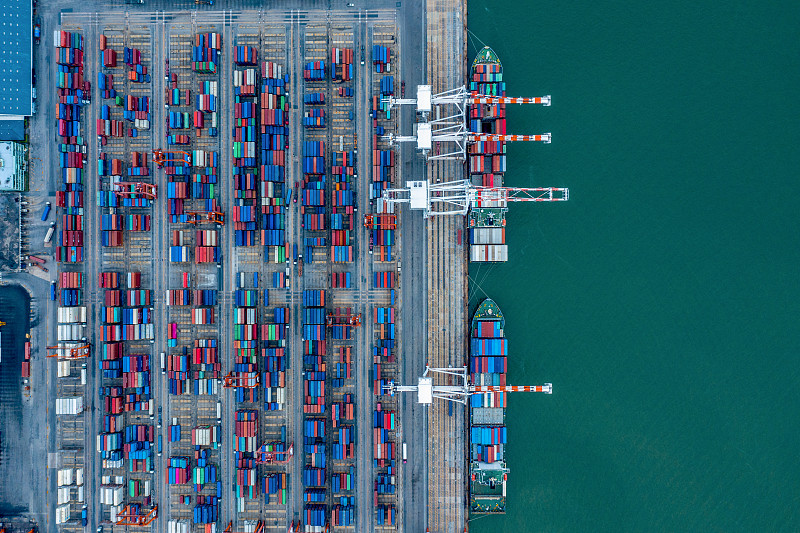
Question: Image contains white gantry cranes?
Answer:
Yes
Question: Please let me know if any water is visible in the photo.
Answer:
Yes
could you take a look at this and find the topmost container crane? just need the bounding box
[381,84,552,130]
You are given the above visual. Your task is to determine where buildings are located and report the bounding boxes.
[0,141,25,193]
[0,0,33,116]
